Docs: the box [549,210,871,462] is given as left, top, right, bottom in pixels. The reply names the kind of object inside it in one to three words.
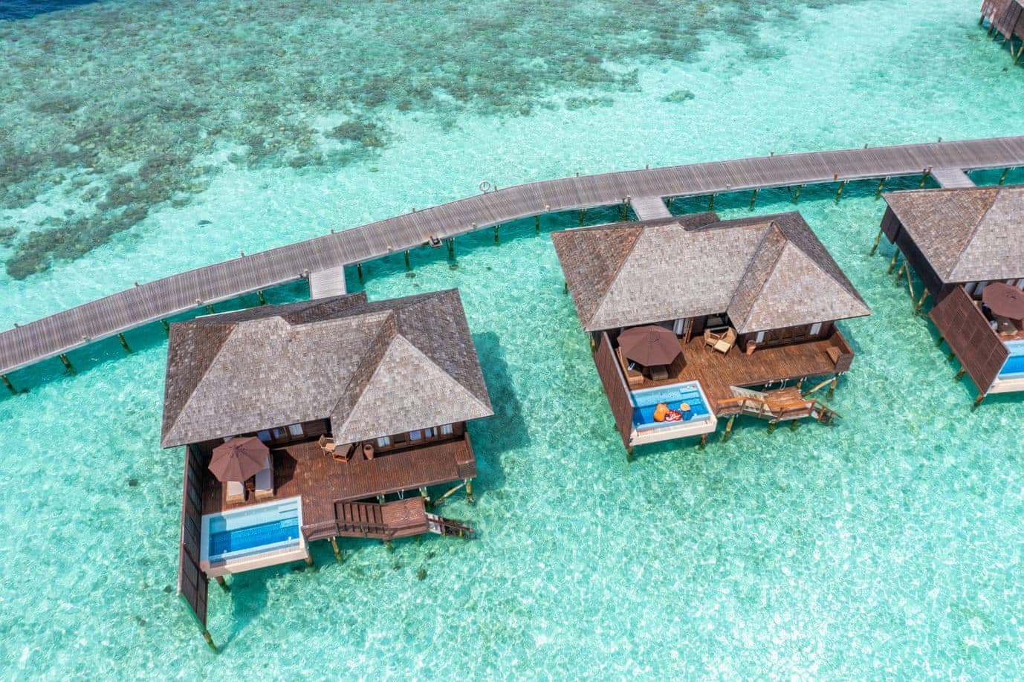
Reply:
house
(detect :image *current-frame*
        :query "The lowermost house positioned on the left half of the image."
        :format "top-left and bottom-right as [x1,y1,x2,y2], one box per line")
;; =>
[160,286,494,640]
